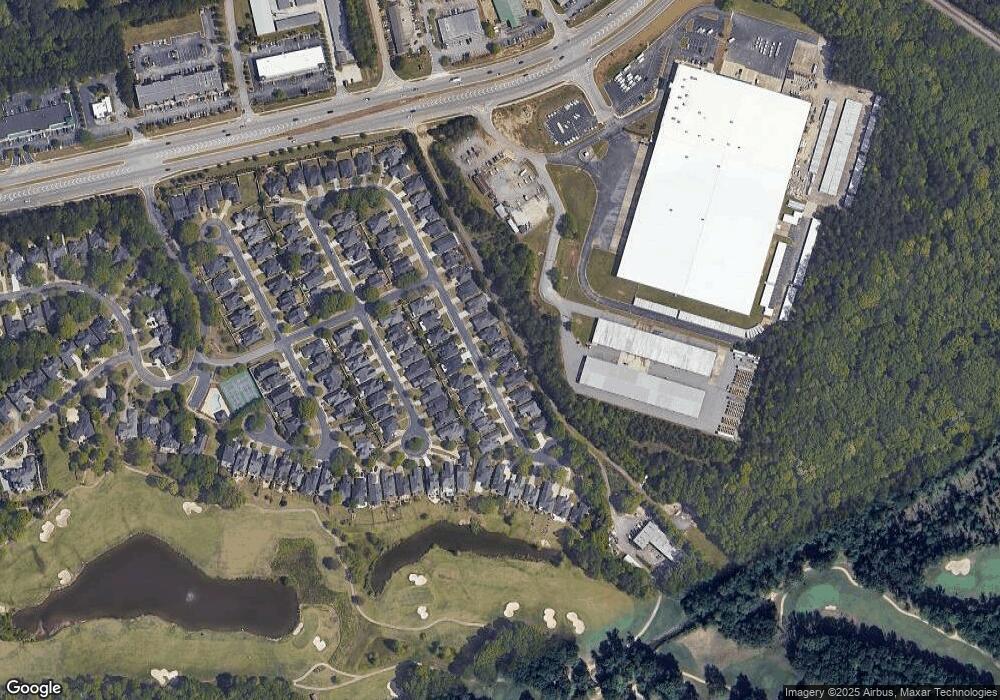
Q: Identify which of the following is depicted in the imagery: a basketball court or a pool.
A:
pool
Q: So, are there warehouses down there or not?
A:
Yes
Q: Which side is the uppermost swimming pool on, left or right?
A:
left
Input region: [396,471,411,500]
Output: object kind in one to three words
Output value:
house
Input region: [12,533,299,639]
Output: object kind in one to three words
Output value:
pond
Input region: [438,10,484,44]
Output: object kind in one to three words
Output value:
building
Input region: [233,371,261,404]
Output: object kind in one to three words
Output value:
tennis court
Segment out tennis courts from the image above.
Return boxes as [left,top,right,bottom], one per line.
[221,378,248,411]
[233,371,261,404]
